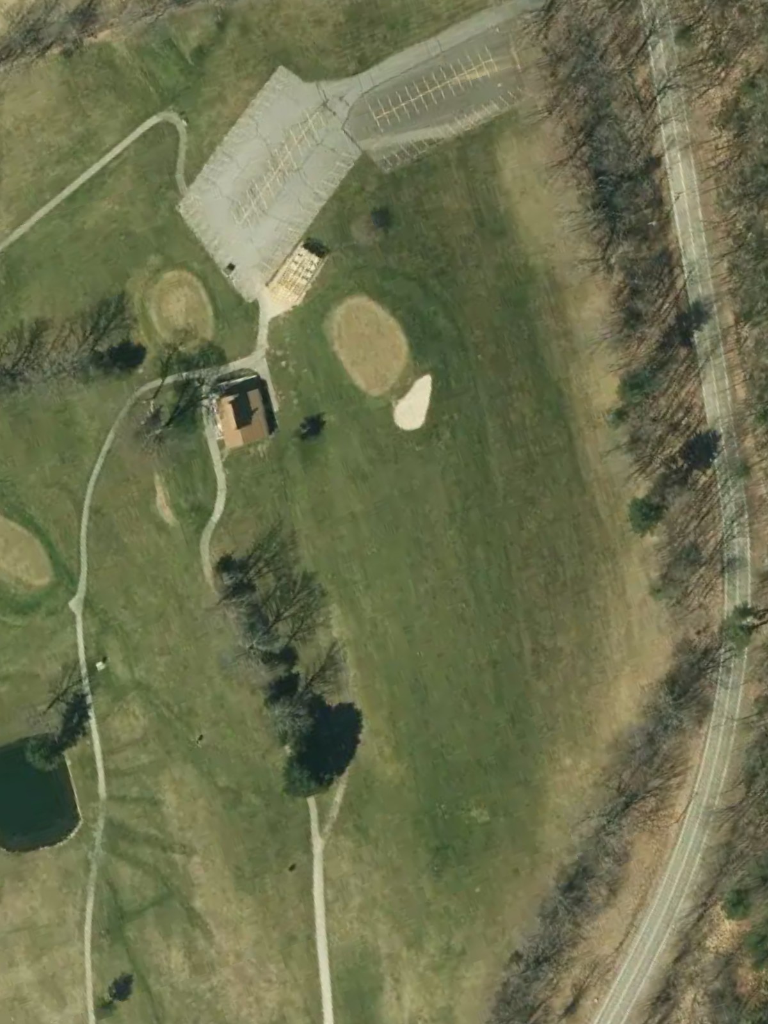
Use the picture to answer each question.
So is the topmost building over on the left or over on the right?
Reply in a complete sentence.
You can find the topmost building on the left side of the picture.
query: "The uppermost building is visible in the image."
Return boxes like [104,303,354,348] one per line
[217,385,271,447]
